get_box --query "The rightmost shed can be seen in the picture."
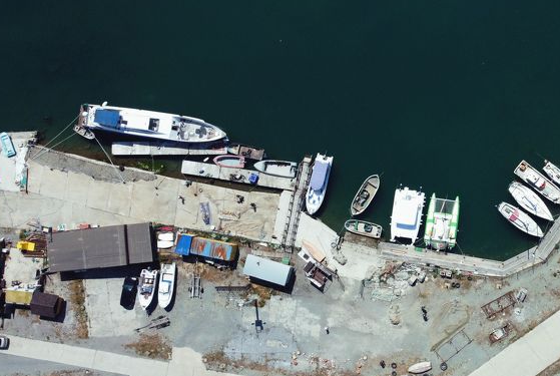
[242,254,296,286]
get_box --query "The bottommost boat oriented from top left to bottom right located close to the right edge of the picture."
[495,202,544,237]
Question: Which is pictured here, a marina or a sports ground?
marina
